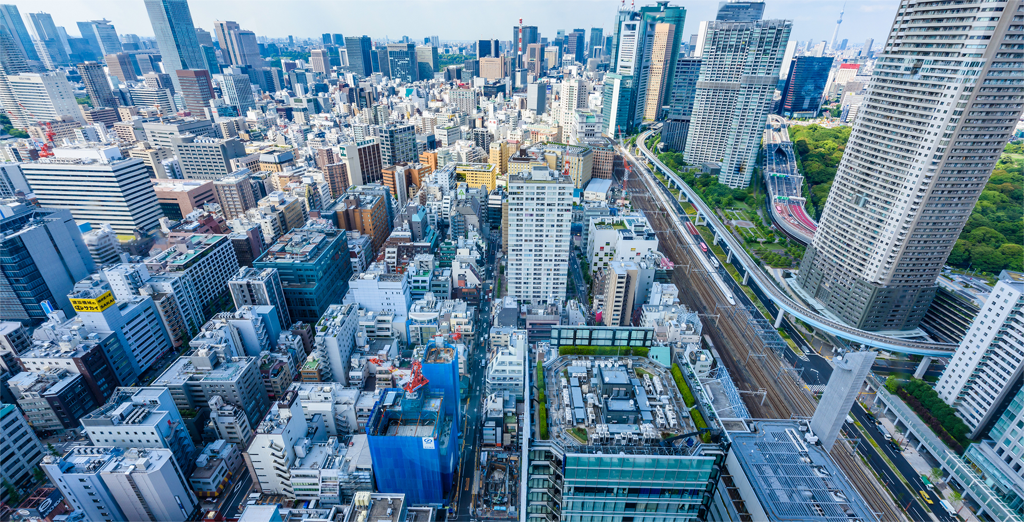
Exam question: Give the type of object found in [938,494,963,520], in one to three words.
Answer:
truck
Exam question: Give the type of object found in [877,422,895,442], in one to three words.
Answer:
vehicle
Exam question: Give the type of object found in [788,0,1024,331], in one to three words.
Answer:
building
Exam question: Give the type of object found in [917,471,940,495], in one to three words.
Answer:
truck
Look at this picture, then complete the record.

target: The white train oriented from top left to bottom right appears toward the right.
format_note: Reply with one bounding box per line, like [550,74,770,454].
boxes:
[633,156,736,305]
